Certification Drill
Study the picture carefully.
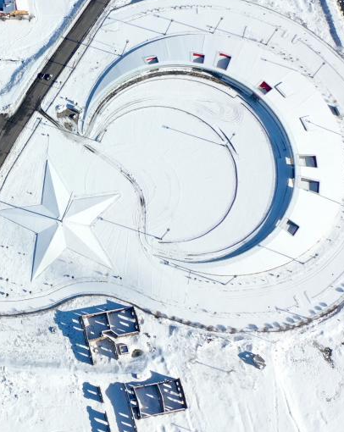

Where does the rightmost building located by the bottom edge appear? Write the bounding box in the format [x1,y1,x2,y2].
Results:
[131,378,187,419]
